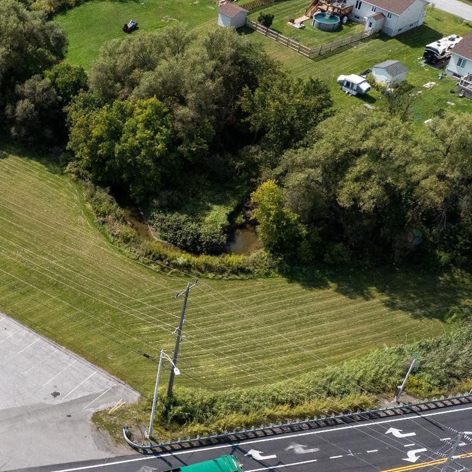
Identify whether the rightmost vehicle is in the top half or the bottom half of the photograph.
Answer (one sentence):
Seen from above, the rightmost vehicle lies in the top half of the view.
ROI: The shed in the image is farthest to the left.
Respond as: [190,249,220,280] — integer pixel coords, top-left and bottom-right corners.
[218,3,248,26]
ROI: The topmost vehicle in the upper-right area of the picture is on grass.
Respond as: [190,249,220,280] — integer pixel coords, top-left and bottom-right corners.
[424,34,462,70]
